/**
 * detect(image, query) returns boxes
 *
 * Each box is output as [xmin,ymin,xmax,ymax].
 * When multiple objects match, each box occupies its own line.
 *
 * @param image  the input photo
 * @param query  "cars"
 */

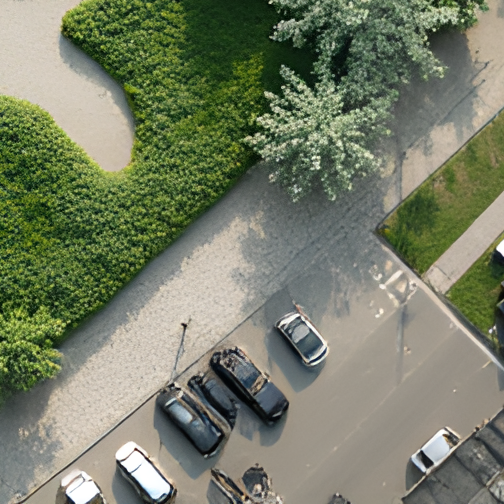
[406,425,460,476]
[116,435,177,504]
[158,379,230,463]
[274,306,330,371]
[188,370,240,427]
[67,466,117,504]
[212,341,287,429]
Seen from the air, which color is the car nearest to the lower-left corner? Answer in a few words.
white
